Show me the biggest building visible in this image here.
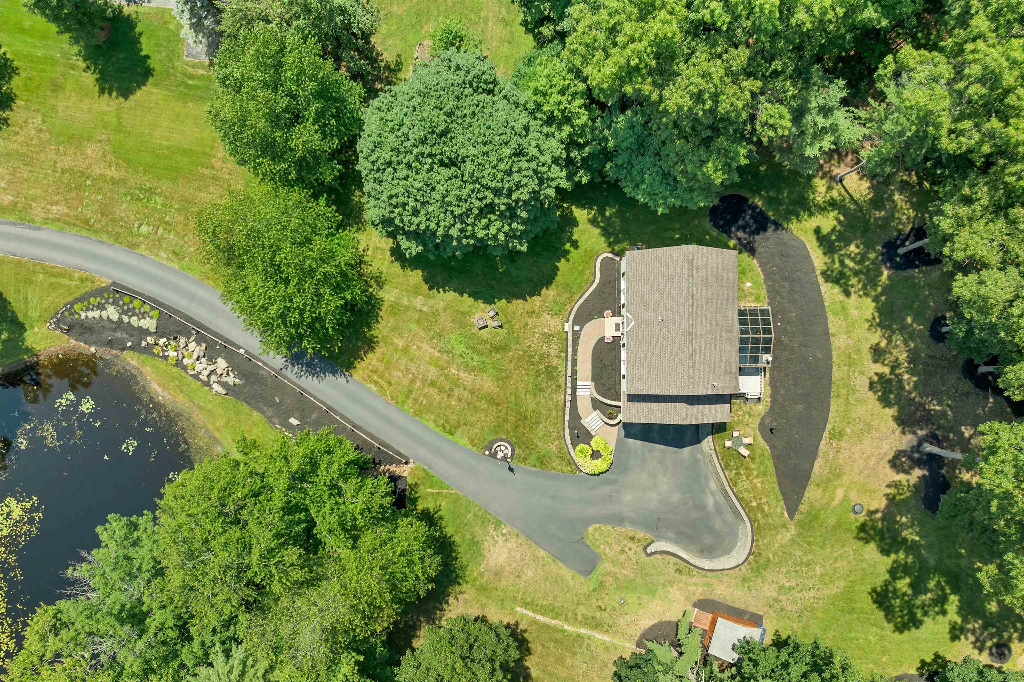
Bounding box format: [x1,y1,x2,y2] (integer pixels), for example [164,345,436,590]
[620,245,775,427]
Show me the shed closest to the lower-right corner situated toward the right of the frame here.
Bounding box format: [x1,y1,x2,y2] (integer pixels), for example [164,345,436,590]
[690,610,767,673]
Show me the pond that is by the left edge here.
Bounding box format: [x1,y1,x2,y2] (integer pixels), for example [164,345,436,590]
[0,375,182,682]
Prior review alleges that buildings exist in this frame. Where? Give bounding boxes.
[690,610,767,673]
[620,245,775,427]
